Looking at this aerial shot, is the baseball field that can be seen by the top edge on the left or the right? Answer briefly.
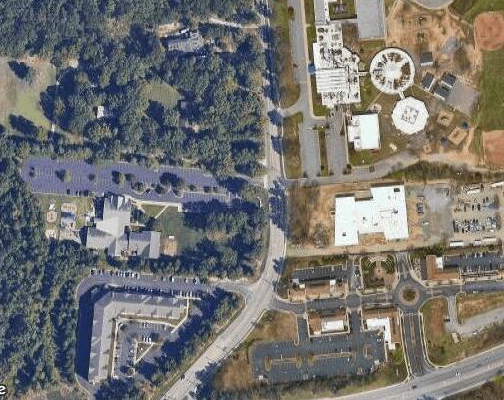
right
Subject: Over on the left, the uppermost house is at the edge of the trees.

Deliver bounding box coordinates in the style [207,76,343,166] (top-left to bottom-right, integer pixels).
[170,31,202,52]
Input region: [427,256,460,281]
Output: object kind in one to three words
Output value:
building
